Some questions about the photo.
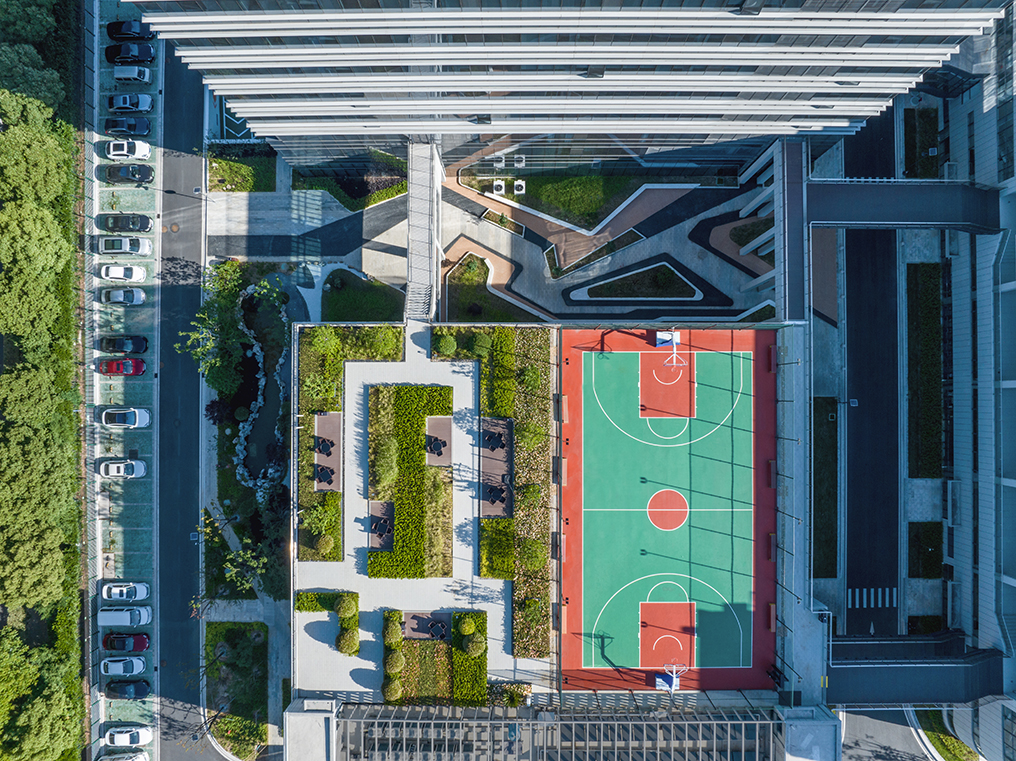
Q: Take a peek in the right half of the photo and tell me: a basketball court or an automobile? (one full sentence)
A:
Visible in the right half of the photo is a basketball court.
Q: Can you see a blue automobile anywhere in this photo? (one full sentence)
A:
Yes, the photo shows a blue automobile.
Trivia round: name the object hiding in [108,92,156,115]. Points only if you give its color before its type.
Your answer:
blue car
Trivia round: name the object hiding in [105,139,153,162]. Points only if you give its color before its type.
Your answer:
white car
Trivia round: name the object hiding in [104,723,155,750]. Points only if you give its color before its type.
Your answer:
white car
